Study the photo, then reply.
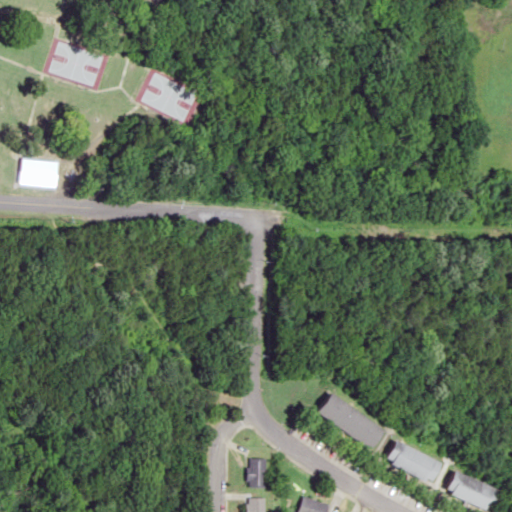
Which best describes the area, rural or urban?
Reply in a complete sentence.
It looks rural.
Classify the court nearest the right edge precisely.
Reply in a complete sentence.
Looking closely, the court nearest the right edge is a basketball court.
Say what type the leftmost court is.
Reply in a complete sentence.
Specifically, the leftmost court is a basketball court.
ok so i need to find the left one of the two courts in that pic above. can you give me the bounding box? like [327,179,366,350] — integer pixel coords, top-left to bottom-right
[43,39,108,90]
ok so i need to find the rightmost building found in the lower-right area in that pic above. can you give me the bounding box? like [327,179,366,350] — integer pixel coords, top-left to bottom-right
[448,472,497,510]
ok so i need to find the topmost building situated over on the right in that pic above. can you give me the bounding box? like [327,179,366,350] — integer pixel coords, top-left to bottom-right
[320,395,385,448]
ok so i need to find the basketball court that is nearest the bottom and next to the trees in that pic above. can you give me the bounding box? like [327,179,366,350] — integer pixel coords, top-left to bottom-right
[136,70,197,123]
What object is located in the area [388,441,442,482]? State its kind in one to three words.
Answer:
building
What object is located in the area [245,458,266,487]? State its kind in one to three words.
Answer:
house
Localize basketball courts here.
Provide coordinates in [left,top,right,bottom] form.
[136,70,197,123]
[43,39,108,90]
